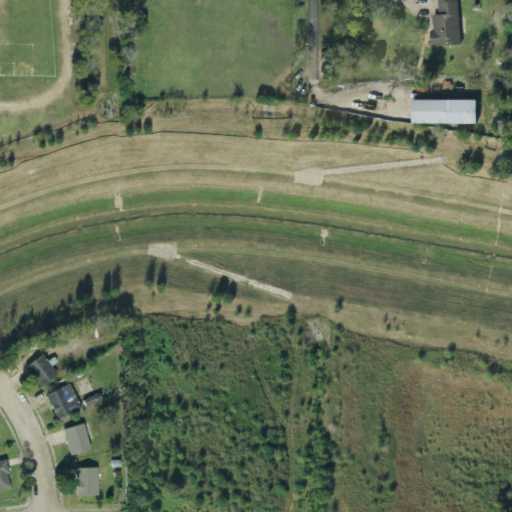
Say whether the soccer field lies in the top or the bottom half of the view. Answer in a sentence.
Seen from above, the soccer field lies in the top half of the view.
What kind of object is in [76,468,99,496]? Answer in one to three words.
house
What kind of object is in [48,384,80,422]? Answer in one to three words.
house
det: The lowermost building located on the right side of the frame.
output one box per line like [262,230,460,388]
[412,98,482,124]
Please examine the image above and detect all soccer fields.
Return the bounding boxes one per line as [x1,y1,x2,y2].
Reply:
[0,0,56,76]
